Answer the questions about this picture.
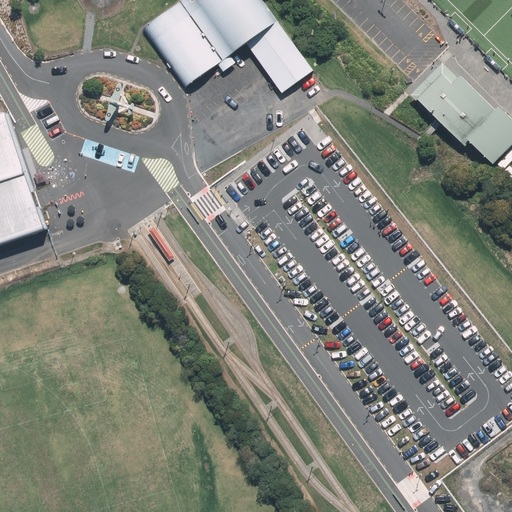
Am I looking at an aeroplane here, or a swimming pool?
aeroplane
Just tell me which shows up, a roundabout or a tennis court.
roundabout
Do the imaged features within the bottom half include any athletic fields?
Yes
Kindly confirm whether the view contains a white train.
No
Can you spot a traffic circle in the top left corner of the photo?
Yes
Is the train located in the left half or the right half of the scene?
left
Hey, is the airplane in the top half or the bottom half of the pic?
top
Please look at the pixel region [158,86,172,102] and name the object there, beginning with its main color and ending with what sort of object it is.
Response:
white car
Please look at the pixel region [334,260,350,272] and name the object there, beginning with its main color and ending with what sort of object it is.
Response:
white vehicle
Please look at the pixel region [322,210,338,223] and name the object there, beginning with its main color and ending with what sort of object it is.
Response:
red vehicle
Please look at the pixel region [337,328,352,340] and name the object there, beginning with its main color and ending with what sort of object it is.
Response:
blue vehicle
